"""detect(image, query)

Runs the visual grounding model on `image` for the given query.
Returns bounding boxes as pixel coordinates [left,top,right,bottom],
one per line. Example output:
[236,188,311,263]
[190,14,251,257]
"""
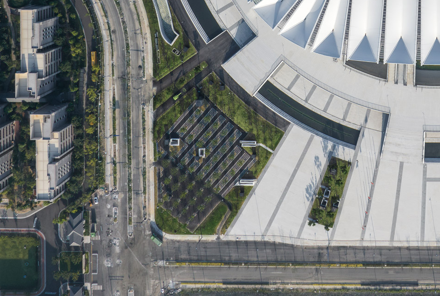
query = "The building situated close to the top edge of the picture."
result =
[14,4,63,100]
